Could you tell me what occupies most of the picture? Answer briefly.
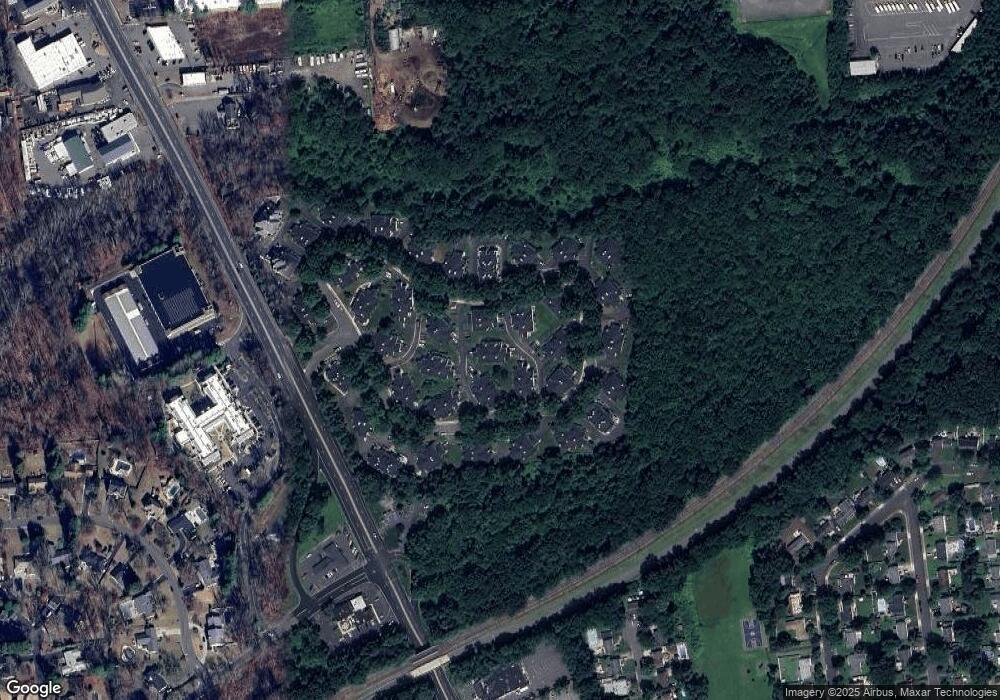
trees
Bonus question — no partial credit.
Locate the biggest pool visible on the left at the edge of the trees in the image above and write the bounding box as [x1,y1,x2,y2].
[109,455,135,476]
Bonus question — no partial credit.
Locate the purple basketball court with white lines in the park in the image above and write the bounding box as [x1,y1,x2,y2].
[740,615,764,651]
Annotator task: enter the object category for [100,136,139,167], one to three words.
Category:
building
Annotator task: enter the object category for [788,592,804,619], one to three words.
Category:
house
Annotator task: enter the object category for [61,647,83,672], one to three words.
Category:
house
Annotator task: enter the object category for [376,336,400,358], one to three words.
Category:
building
